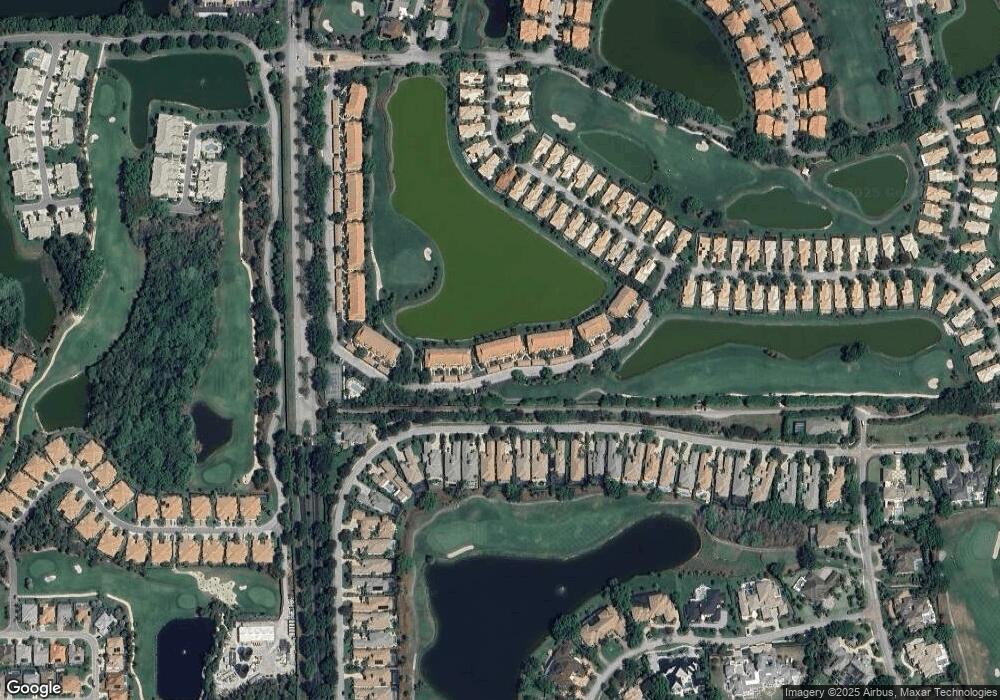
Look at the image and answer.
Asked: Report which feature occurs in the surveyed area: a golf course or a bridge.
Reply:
golf course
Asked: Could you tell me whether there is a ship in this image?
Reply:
No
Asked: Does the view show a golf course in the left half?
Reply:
Yes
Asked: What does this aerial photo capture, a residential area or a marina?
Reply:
residential area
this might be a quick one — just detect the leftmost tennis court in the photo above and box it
[325,363,342,398]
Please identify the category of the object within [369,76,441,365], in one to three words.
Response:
golf course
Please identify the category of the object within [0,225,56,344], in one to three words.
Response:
pond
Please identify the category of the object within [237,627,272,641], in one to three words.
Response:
building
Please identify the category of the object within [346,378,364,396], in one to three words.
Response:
swimming pool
